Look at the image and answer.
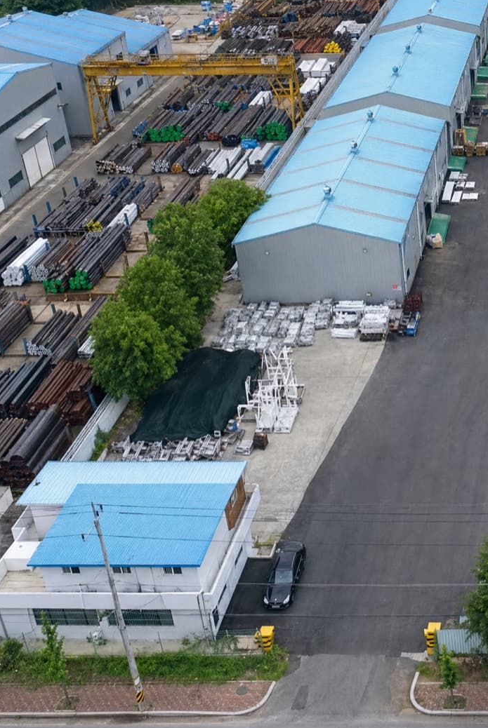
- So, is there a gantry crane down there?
Yes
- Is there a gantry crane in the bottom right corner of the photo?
No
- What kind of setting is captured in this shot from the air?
industrial area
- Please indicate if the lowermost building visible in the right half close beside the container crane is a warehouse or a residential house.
warehouse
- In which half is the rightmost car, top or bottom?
bottom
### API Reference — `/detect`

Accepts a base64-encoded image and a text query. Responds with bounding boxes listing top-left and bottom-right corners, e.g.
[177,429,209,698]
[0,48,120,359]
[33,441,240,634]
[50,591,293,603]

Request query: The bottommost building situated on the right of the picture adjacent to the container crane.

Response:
[229,101,450,300]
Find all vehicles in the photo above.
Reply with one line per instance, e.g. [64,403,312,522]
[258,549,308,613]
[169,24,192,39]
